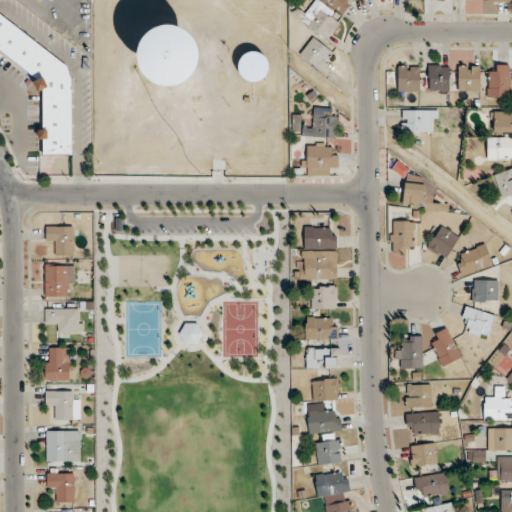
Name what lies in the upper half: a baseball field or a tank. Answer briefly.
tank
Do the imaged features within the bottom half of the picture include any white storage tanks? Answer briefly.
No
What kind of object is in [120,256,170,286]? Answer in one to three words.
sports court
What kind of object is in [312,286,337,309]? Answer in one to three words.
house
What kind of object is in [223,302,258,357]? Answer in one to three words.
basketball court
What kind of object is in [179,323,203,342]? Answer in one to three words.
building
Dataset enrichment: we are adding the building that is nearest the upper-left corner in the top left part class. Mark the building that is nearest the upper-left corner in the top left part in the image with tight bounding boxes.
[0,13,72,154]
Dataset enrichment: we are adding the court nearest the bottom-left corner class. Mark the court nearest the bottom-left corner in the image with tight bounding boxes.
[126,302,162,357]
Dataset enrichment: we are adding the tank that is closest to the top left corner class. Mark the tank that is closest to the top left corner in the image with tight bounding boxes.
[137,24,199,86]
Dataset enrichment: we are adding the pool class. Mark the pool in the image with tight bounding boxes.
[470,112,488,134]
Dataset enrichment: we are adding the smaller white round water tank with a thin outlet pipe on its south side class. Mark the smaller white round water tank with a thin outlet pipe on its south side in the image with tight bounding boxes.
[236,50,269,98]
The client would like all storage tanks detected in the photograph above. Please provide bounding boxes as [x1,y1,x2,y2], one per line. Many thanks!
[137,24,199,86]
[236,50,269,98]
